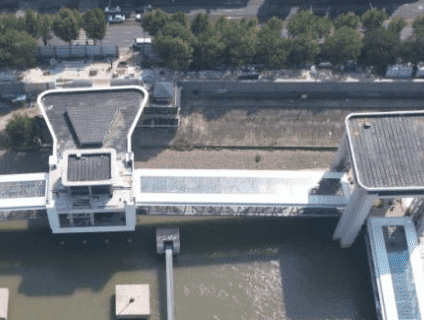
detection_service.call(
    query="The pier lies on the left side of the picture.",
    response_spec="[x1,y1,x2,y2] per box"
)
[156,231,180,257]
